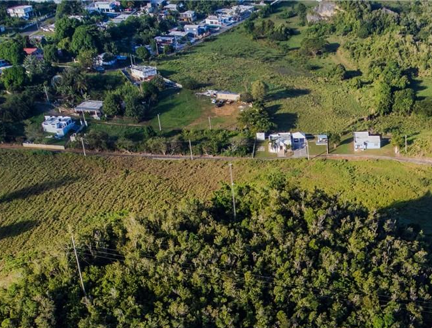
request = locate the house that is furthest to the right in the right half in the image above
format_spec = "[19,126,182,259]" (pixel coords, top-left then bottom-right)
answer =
[351,129,382,150]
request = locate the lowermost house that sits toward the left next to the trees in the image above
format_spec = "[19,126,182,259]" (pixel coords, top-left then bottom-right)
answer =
[42,111,82,138]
